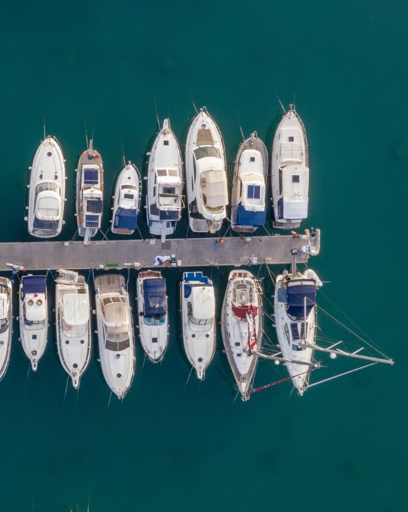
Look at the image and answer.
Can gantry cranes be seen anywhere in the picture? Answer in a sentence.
No, there is no gantry crane in the image.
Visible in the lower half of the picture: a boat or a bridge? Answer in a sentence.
Looking in the lower half of the picture, you will find a boat.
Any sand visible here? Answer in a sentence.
No, no sand is visible.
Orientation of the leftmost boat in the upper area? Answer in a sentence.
The leftmost boat in the upper area is laid out vertically.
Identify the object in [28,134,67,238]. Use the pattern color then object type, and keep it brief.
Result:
white boat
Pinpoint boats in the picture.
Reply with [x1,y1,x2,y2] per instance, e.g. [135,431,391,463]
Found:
[183,106,228,233]
[110,160,142,234]
[28,134,67,238]
[227,130,271,231]
[272,254,397,398]
[57,269,82,286]
[0,279,12,380]
[143,118,183,242]
[178,272,217,381]
[219,272,340,403]
[54,278,92,390]
[92,275,135,403]
[301,264,327,296]
[135,270,170,366]
[74,140,105,245]
[267,106,310,228]
[19,275,48,372]
[306,228,321,257]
